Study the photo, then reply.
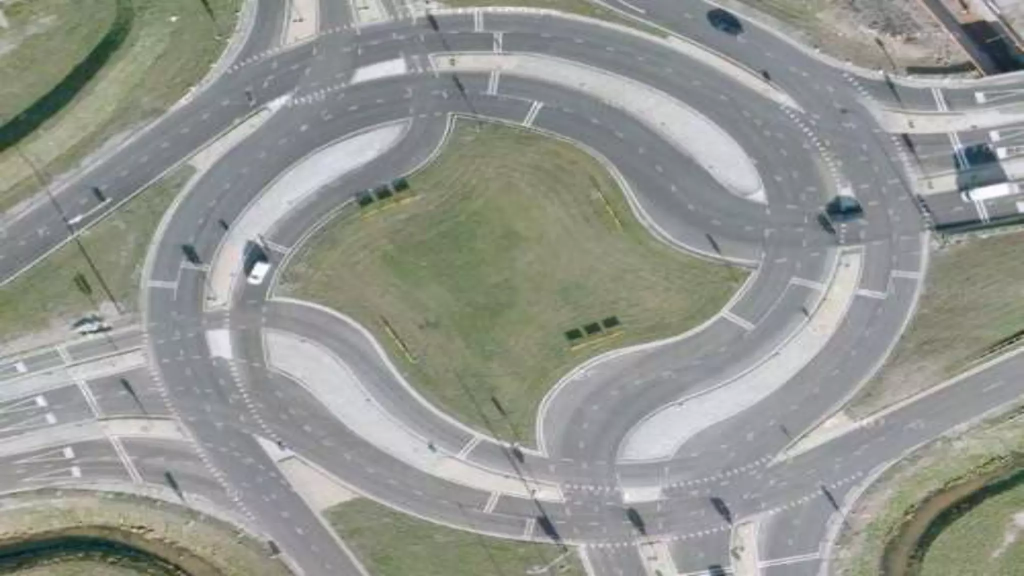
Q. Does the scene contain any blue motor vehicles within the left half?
No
